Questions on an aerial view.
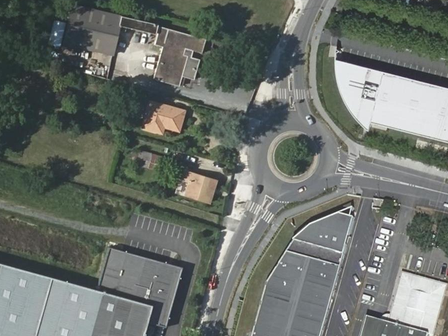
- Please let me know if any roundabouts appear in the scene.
Yes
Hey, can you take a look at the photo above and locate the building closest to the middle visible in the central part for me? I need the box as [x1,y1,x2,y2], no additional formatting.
[182,172,218,205]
